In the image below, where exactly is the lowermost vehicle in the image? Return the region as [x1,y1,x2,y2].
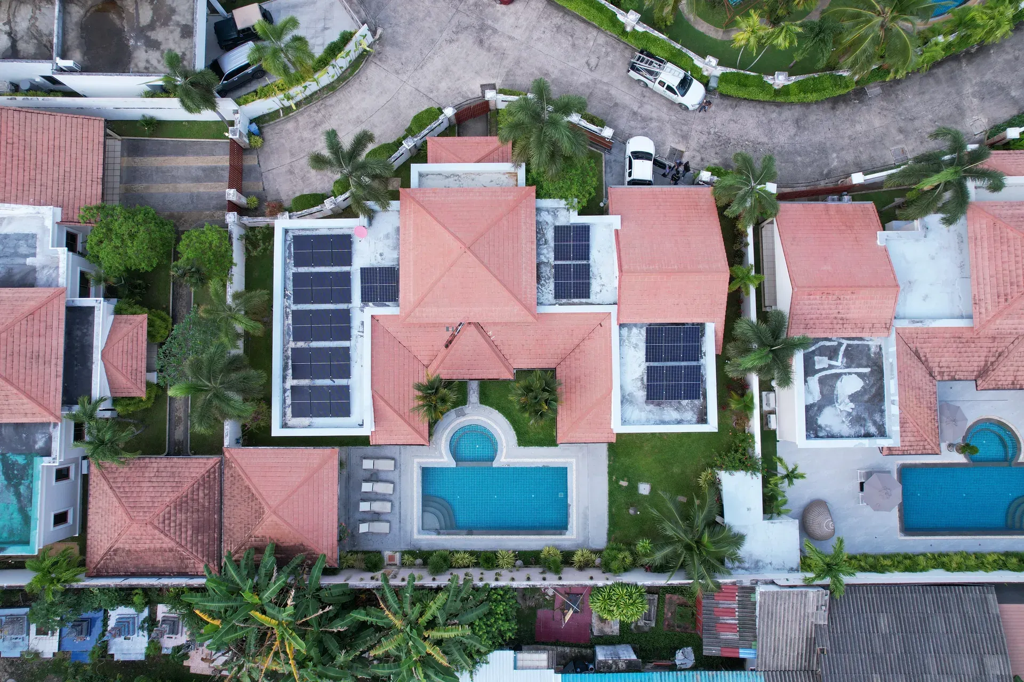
[626,130,672,184]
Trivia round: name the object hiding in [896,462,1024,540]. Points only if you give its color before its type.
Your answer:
blue swimming pool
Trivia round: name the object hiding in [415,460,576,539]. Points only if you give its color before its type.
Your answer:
blue swimming pool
